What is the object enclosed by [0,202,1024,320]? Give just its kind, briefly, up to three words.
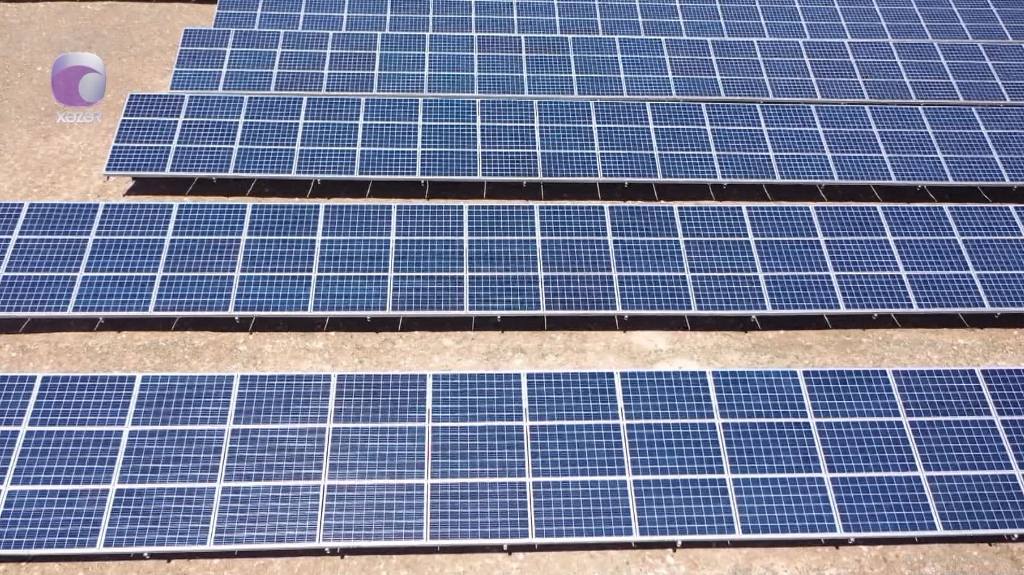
solar array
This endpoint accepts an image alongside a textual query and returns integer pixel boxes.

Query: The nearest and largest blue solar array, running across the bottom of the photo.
[0,368,1024,554]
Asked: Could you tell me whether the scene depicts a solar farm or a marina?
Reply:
solar farm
